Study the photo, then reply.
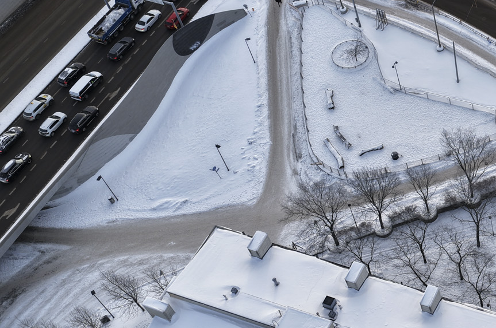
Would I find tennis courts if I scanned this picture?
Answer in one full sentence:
No, no tennis court is visible in the scene.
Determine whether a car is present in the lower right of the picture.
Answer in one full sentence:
No, in the lower right of the picture there is no car.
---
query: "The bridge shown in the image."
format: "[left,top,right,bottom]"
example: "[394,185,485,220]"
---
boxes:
[0,78,139,263]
